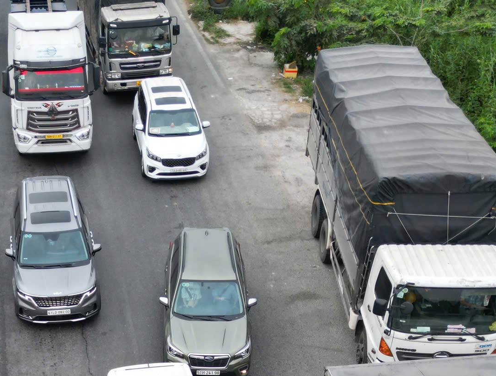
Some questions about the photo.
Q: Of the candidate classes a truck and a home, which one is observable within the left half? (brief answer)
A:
truck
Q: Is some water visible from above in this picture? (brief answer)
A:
No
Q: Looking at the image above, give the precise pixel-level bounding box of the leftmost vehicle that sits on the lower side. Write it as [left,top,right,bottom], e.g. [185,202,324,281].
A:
[6,174,101,321]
